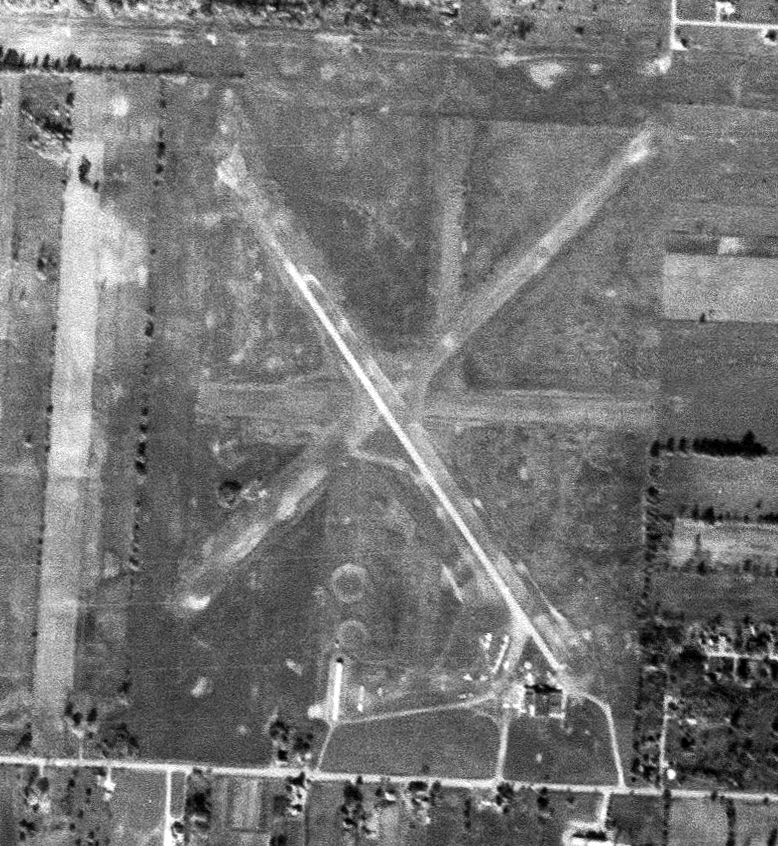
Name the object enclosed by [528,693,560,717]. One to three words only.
hangar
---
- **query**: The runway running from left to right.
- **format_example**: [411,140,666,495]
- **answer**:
[200,382,655,425]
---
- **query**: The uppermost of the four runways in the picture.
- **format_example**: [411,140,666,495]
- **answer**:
[434,119,468,334]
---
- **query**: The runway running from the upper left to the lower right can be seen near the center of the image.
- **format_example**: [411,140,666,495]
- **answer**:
[281,256,563,672]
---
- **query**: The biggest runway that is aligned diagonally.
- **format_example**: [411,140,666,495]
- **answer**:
[184,137,656,610]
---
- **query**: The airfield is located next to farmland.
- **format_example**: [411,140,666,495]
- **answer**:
[140,84,656,785]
